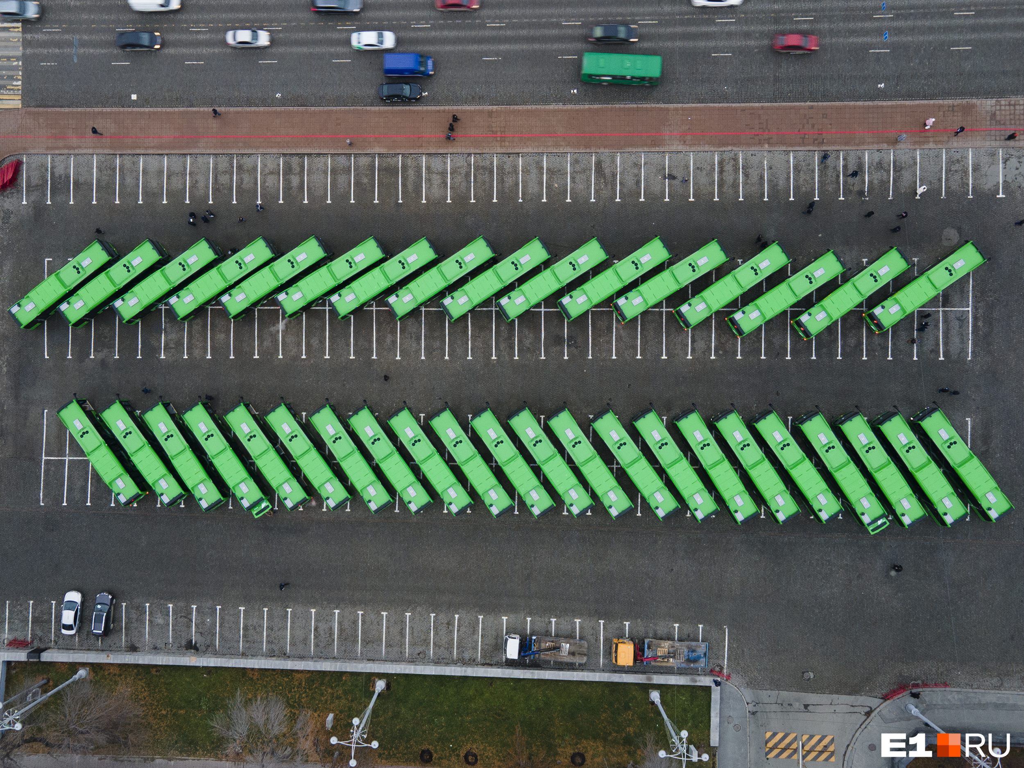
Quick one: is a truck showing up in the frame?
Yes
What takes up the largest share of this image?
paved ground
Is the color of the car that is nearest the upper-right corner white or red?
red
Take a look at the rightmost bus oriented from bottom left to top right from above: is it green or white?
green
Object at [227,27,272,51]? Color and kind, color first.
white car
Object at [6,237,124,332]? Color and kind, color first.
green bus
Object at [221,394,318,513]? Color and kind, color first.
green bus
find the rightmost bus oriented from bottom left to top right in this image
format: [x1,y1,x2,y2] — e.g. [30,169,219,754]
[856,238,993,335]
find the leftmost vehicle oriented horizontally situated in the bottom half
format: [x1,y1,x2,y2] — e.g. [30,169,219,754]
[502,631,588,664]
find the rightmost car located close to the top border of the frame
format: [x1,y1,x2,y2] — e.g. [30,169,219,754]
[772,31,819,57]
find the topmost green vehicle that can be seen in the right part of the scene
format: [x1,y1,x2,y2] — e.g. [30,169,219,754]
[581,52,664,89]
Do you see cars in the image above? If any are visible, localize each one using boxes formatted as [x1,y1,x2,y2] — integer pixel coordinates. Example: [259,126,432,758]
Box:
[314,0,362,16]
[379,81,423,104]
[772,31,819,57]
[0,0,44,22]
[437,0,479,14]
[692,0,741,12]
[119,30,163,54]
[590,22,637,48]
[63,589,88,634]
[91,590,118,636]
[133,0,179,16]
[227,27,272,51]
[352,29,397,53]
